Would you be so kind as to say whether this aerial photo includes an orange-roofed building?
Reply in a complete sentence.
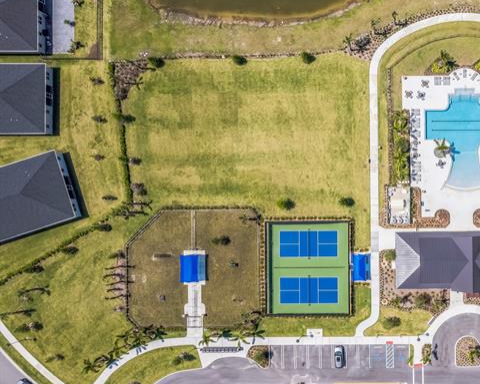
No, I can't see a single orange-roofed building in this photo.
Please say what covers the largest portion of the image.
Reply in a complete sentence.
For the most part, this view shows grass.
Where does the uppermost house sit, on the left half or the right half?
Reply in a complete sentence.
The uppermost house is on the left side of the image.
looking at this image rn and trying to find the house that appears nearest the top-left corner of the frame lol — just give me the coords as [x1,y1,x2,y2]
[0,0,44,53]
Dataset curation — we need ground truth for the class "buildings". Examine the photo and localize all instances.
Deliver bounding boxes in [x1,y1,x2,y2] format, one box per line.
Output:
[0,150,81,242]
[396,231,480,294]
[0,62,52,133]
[0,0,44,53]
